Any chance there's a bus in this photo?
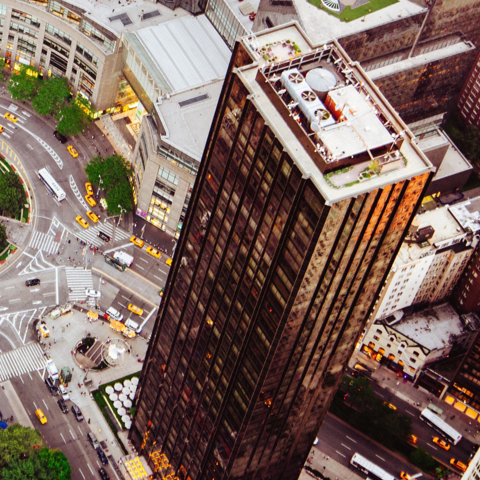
Yes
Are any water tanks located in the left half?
No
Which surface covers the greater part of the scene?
buildings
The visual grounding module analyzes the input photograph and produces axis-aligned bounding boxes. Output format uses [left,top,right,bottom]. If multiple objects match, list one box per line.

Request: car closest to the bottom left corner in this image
[34,410,49,424]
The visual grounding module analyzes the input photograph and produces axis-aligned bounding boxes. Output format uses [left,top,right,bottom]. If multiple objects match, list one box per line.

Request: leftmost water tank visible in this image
[305,64,333,98]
